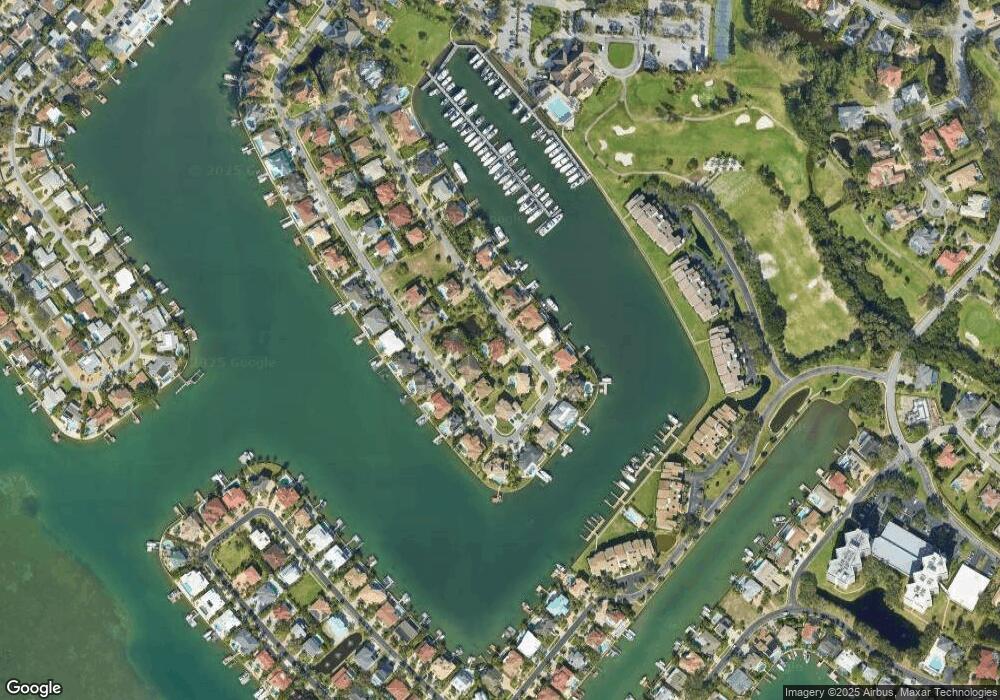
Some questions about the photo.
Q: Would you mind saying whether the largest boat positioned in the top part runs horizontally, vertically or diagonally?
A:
diagonally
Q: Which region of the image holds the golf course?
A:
top right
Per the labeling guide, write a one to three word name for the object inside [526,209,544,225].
boat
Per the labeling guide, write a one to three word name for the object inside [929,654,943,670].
swimming pool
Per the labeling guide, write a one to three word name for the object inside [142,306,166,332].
house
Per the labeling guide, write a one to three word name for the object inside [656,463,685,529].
building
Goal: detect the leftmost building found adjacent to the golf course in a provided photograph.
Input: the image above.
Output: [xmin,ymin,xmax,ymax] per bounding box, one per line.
[546,45,599,92]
